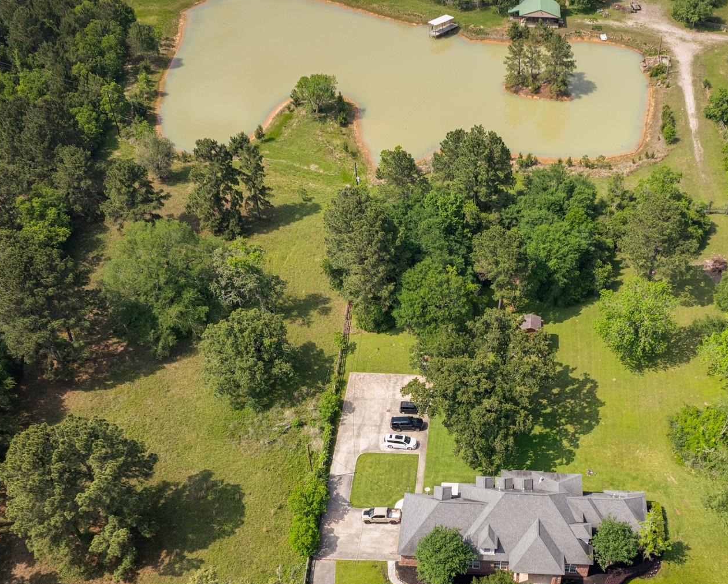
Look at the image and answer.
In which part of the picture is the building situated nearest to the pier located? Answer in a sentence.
The building situated nearest to the pier sits in the top right section of the image.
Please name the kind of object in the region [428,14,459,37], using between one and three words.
pier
